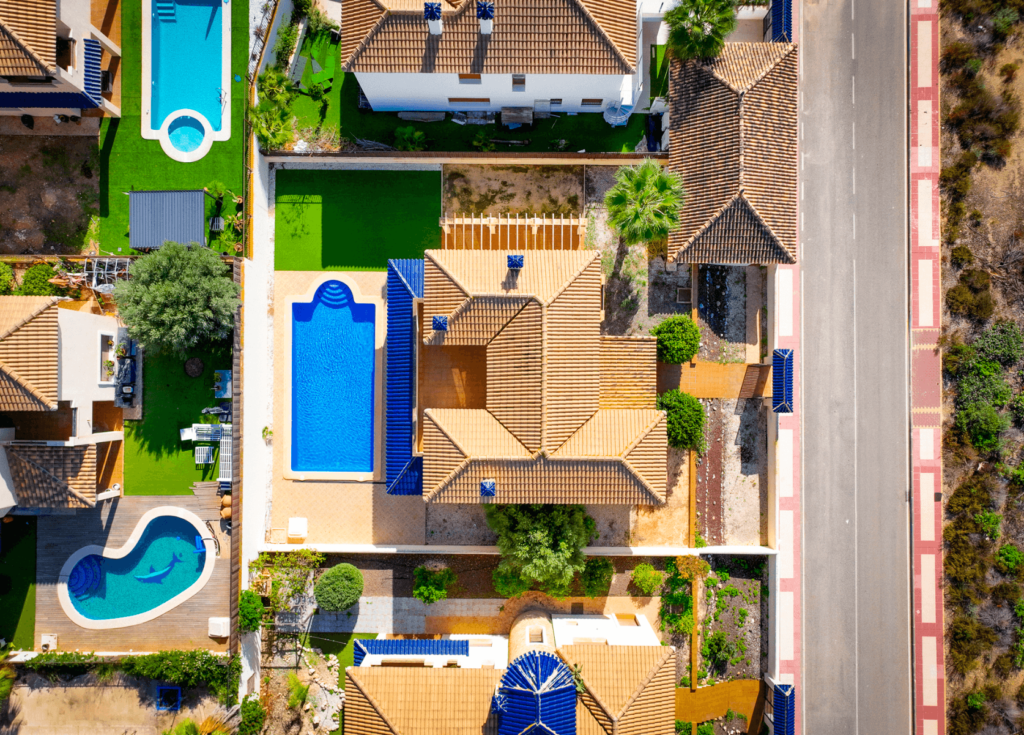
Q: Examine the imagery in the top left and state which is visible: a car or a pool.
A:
pool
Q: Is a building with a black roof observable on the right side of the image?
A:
No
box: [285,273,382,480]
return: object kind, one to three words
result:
swimming pool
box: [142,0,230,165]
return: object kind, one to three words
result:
swimming pool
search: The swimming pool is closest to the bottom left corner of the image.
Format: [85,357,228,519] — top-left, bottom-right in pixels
[58,507,214,629]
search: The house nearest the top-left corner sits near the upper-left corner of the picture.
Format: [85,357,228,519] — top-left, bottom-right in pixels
[0,0,121,117]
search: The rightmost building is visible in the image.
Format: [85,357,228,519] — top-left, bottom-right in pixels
[667,41,800,266]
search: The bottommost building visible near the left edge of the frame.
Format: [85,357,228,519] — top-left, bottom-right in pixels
[0,295,125,520]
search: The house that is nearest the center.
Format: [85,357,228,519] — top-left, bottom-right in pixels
[385,247,668,506]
